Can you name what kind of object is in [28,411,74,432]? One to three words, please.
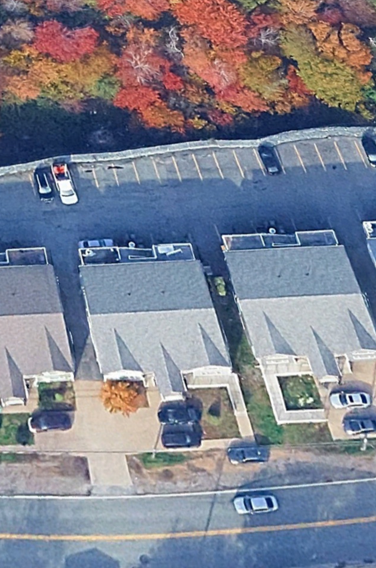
car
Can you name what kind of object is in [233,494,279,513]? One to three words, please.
car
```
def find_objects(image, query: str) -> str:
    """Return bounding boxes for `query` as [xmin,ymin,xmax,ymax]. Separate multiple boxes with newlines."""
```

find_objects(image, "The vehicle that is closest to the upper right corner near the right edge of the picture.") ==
[359,132,376,169]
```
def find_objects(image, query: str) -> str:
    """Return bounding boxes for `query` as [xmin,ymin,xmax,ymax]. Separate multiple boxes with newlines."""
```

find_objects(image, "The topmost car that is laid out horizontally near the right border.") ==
[329,389,370,409]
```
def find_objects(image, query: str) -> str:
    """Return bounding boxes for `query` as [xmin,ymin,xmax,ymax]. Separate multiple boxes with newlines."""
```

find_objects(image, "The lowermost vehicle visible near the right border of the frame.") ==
[341,416,376,437]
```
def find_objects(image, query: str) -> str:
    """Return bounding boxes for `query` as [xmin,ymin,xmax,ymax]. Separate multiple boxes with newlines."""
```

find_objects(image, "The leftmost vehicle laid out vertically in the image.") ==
[34,164,54,202]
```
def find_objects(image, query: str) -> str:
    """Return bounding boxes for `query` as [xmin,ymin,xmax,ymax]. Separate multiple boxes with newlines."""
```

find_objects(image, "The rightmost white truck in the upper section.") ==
[51,160,76,206]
